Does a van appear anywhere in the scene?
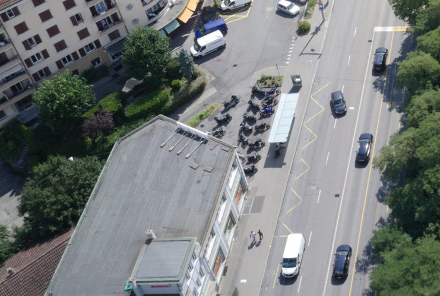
Yes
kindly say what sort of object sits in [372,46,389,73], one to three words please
car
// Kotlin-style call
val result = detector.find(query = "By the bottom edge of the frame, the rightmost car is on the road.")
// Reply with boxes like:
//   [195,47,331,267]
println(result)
[331,241,353,284]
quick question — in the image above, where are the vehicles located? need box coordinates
[258,105,276,115]
[261,97,278,105]
[355,132,375,166]
[244,150,264,161]
[238,130,252,142]
[243,108,257,121]
[372,46,389,73]
[239,119,254,131]
[331,241,353,284]
[186,26,229,55]
[246,162,262,174]
[247,138,266,147]
[190,11,232,38]
[223,96,239,108]
[219,0,252,11]
[273,0,303,17]
[276,227,305,279]
[212,126,226,134]
[254,122,273,131]
[330,86,348,118]
[251,81,264,93]
[214,111,233,122]
[247,97,262,110]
